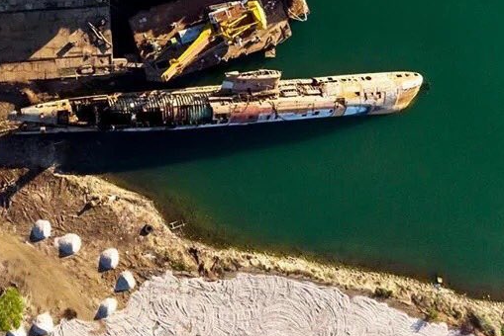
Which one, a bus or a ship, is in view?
ship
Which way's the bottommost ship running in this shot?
from left to right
